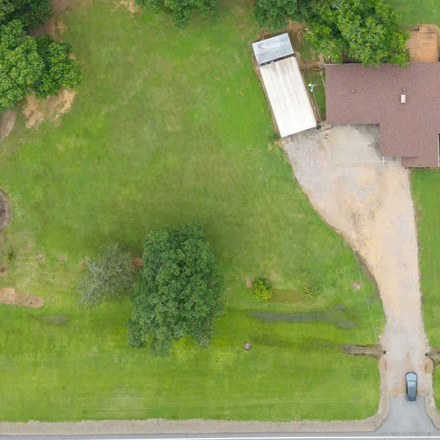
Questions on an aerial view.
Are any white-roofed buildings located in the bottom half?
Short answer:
No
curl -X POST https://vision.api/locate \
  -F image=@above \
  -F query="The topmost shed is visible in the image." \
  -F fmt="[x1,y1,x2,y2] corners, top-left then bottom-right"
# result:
[252,33,294,65]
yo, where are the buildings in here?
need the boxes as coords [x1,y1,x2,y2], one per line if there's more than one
[325,61,440,167]
[260,56,316,138]
[252,33,294,65]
